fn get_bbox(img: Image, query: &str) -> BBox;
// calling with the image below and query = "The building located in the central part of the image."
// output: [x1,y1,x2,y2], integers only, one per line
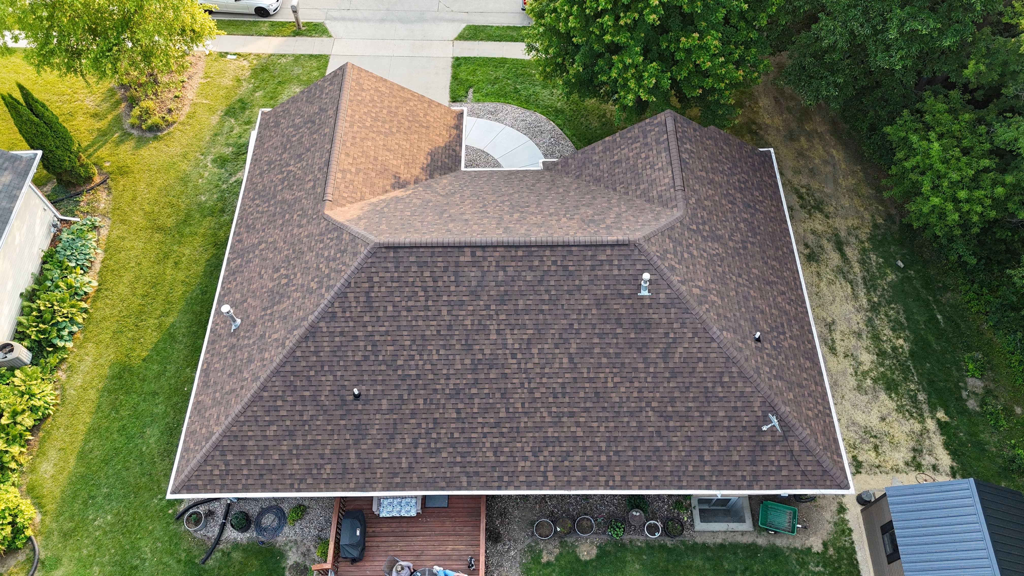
[166,60,855,502]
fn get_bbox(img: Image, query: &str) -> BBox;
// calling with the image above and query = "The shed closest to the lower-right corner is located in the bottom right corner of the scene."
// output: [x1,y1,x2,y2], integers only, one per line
[860,479,1024,576]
